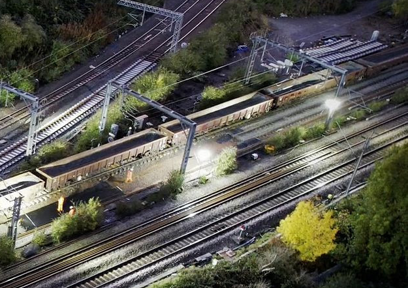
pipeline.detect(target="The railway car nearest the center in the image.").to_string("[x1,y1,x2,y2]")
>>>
[156,90,273,149]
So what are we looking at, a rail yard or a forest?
rail yard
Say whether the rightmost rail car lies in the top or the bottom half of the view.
top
